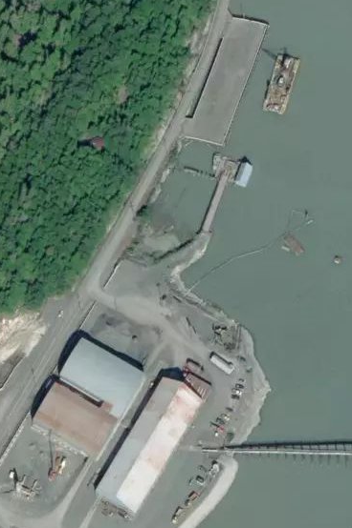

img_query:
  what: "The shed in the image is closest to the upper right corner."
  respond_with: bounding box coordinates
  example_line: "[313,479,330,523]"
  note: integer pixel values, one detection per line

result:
[234,162,253,189]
